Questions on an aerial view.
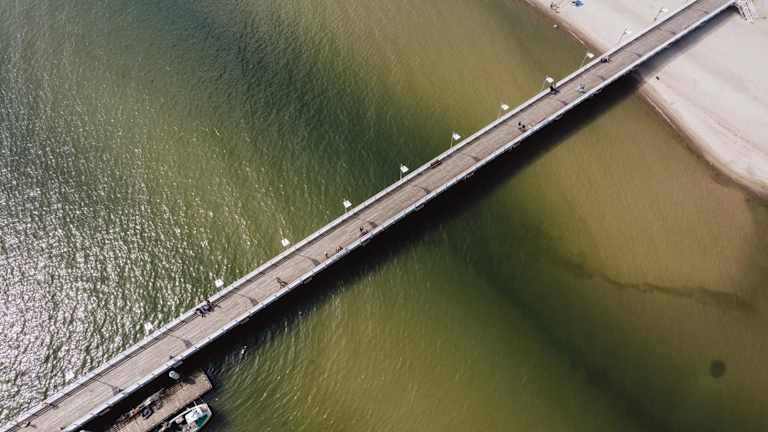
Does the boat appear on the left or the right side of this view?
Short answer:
left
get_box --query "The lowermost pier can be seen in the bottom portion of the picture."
[104,368,214,432]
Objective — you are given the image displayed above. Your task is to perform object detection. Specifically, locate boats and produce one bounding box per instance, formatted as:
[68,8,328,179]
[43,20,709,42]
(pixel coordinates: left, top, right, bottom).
[158,404,212,432]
